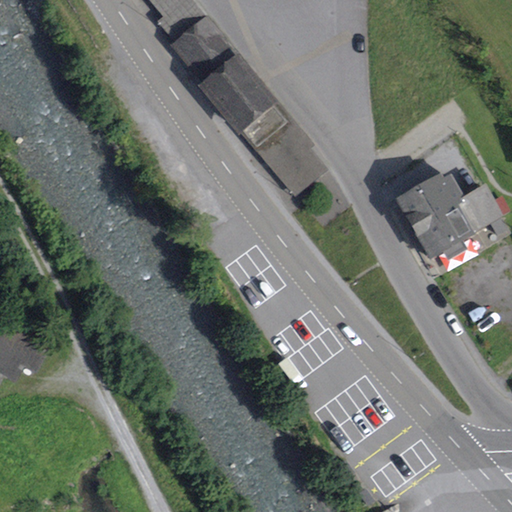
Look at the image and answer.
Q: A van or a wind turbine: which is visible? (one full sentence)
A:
The one in the frame is a van.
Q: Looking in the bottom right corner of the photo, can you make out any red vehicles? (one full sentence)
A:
Yes, a red vehicle shows up in the bottom right corner of the photo.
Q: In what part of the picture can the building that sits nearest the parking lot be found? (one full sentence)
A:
Look in the top portion of the view to spot the building that sits nearest the parking lot.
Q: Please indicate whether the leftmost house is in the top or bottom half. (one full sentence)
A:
The bottom half of the photo is where the leftmost house is.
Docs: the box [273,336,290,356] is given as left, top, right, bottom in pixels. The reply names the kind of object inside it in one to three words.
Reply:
car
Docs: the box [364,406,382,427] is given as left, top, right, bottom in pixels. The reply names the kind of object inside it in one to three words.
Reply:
car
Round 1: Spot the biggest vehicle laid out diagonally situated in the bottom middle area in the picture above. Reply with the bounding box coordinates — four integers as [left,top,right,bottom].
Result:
[278,355,306,390]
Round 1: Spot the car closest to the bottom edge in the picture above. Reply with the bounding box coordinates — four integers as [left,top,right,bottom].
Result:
[394,456,412,477]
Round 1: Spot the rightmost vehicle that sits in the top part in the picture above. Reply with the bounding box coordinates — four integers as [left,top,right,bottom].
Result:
[459,166,475,187]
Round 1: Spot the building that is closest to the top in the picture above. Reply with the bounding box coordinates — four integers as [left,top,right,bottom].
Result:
[151,0,327,196]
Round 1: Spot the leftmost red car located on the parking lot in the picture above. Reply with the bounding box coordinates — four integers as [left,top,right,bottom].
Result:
[294,320,311,340]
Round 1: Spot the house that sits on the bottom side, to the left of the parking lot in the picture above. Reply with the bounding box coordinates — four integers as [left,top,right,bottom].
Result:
[0,332,45,384]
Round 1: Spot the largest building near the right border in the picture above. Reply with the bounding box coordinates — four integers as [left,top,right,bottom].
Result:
[398,173,505,259]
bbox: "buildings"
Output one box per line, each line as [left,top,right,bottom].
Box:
[398,173,505,259]
[151,0,327,196]
[0,332,45,384]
